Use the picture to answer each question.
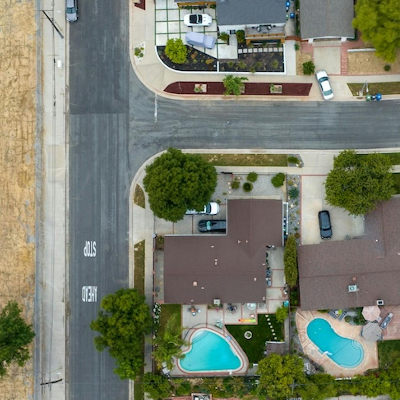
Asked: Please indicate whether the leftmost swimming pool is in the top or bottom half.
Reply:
bottom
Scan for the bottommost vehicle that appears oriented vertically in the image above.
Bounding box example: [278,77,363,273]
[319,211,332,240]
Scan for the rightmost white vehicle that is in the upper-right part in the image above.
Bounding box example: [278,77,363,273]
[316,70,333,101]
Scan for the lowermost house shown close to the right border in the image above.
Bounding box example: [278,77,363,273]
[297,196,400,310]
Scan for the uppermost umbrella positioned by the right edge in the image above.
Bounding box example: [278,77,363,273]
[364,307,381,322]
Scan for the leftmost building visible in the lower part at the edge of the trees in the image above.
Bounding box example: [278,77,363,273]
[164,199,284,304]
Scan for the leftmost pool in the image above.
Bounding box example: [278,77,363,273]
[177,327,243,374]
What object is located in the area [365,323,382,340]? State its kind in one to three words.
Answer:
umbrella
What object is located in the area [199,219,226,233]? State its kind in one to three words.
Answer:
vehicle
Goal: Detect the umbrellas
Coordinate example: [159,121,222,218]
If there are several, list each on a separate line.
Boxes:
[365,323,382,340]
[364,307,381,322]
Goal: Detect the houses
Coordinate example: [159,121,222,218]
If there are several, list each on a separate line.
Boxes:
[301,0,370,43]
[297,196,400,310]
[175,0,286,29]
[164,199,284,304]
